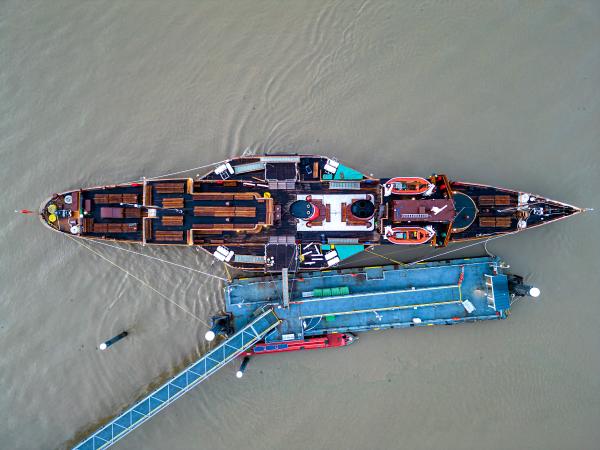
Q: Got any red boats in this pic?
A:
Yes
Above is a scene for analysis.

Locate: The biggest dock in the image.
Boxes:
[212,255,526,344]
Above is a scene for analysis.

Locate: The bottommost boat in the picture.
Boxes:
[238,333,360,356]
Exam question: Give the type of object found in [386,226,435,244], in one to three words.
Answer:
boat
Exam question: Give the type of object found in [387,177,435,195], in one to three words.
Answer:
boat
